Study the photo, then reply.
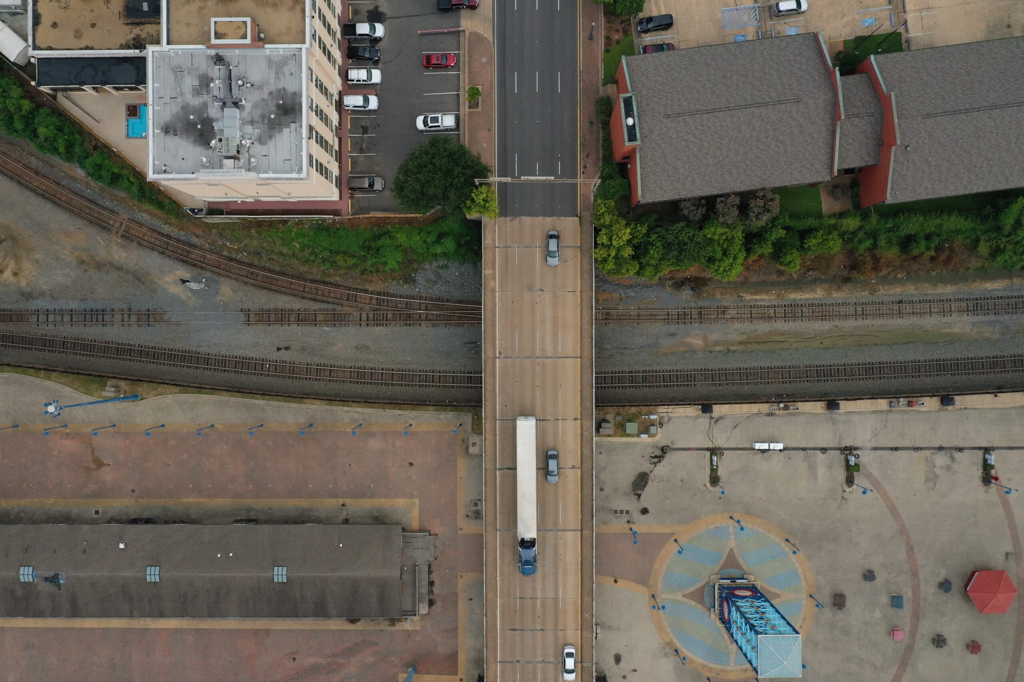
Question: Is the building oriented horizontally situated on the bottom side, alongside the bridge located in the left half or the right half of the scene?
left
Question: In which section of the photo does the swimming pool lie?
top left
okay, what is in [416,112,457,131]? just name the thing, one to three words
vehicle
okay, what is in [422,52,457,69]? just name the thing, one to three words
car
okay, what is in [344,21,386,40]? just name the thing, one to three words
vehicle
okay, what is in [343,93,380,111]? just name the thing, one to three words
car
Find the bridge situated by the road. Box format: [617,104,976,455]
[471,213,595,682]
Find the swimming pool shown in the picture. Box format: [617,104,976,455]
[126,103,148,138]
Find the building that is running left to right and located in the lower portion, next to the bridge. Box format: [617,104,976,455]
[0,521,403,619]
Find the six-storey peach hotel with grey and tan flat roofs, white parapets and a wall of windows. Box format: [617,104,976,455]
[148,0,344,203]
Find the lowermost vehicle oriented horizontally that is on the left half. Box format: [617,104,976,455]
[349,175,385,192]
